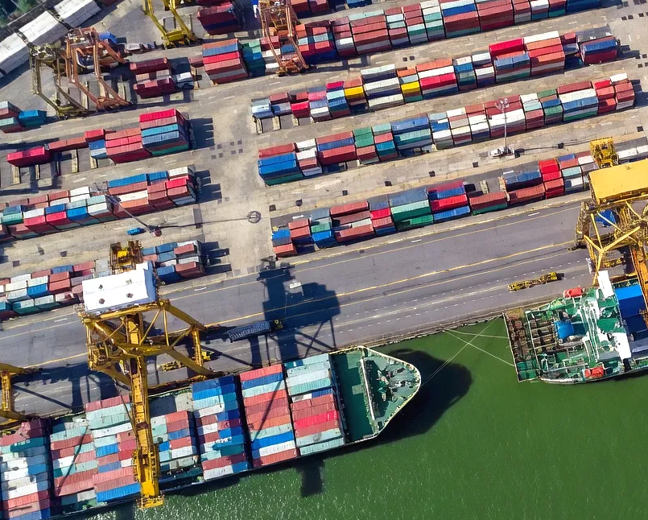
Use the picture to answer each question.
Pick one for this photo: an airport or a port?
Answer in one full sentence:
The picture captures a port.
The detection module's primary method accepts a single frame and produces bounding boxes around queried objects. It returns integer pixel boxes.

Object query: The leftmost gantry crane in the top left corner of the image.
[19,33,91,121]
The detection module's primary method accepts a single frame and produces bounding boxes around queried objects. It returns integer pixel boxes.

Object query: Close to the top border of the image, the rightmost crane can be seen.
[253,0,310,76]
